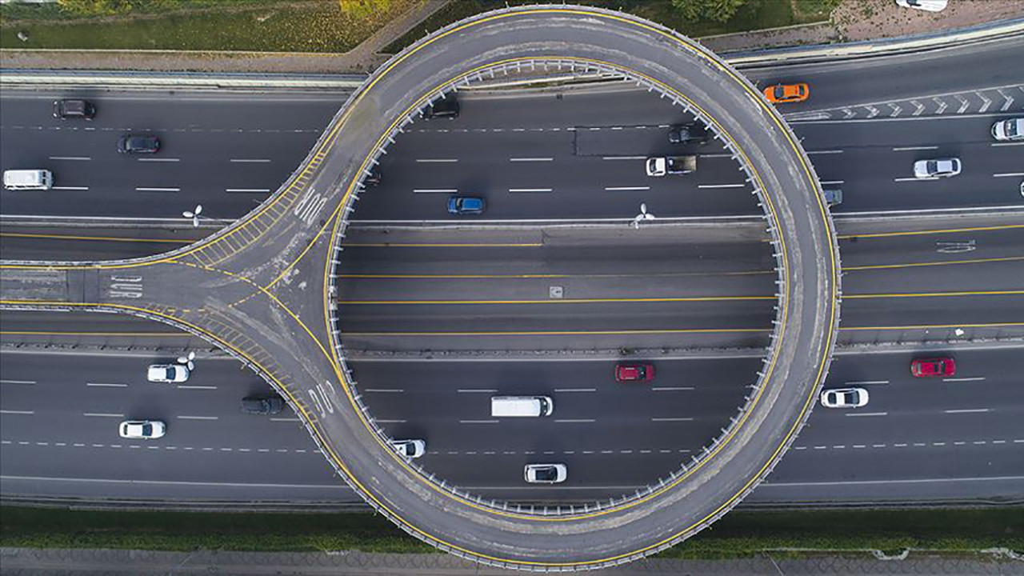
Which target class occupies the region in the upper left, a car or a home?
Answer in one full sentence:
What appears in the upper left is a car.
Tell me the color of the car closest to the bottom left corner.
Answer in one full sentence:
The car closest to the bottom left corner is white.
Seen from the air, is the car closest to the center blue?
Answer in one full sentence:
Yes, the car closest to the center appears blue.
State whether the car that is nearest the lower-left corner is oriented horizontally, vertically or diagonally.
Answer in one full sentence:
The car that is nearest the lower-left corner is laid out horizontally.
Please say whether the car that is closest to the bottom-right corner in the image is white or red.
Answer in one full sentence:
The car that is closest to the bottom-right corner looks red in the image.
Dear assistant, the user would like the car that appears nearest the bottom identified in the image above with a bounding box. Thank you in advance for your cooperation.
[524,462,566,486]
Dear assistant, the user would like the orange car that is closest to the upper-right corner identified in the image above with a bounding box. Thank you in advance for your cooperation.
[763,83,809,105]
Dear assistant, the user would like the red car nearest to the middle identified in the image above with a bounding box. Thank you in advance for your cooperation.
[615,361,654,383]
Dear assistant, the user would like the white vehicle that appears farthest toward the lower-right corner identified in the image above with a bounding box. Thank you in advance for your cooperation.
[819,386,868,409]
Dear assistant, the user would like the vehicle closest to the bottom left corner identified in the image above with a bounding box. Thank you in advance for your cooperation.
[119,419,168,441]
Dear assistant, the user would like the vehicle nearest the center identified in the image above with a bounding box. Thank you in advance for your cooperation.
[447,195,485,217]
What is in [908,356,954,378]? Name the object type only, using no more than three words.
car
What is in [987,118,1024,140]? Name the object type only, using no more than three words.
car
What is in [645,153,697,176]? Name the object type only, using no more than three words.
truck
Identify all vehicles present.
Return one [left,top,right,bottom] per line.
[819,386,868,409]
[895,0,948,13]
[447,195,485,217]
[5,167,56,191]
[615,361,654,383]
[645,153,697,176]
[119,419,168,441]
[908,356,954,378]
[911,157,960,180]
[54,98,98,121]
[524,462,566,486]
[394,438,426,458]
[668,122,711,146]
[491,395,553,419]
[146,363,191,385]
[361,166,381,186]
[825,187,843,206]
[420,98,459,118]
[241,394,286,417]
[987,118,1024,140]
[763,83,809,105]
